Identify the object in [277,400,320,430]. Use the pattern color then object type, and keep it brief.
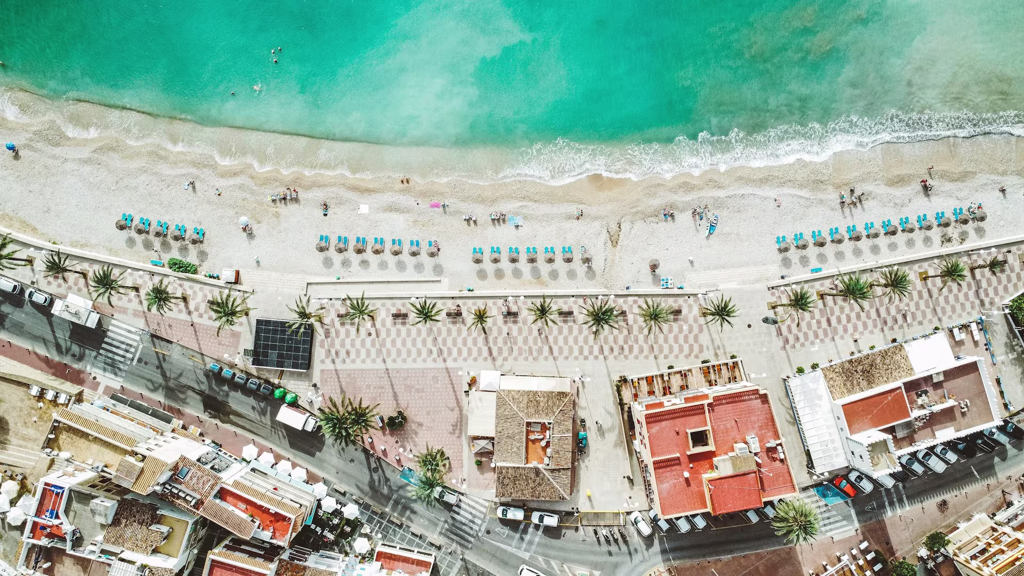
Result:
white truck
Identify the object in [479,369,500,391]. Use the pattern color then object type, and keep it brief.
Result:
white tent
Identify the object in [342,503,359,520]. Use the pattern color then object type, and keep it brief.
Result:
white umbrella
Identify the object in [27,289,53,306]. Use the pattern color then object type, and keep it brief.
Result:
white car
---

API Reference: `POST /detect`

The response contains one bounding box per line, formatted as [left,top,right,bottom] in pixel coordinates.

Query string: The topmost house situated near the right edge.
[779,330,1006,481]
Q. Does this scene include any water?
Yes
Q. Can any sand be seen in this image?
Yes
